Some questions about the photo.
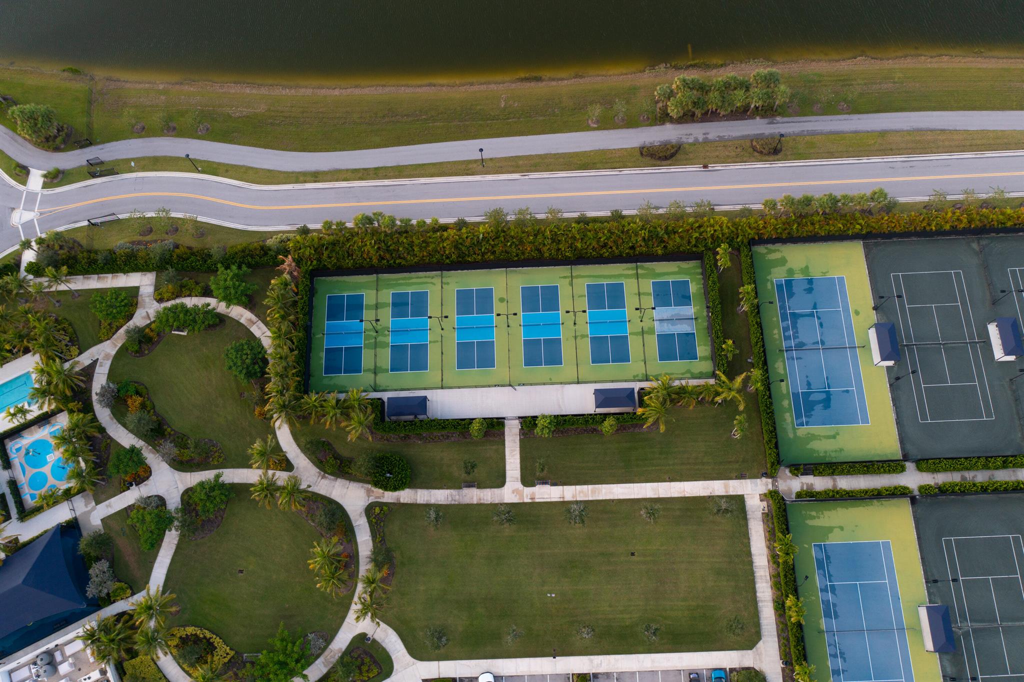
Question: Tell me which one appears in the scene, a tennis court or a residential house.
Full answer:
It is a tennis court that can be seen here.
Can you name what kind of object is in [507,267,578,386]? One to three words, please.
sports court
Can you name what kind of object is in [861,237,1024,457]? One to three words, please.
tennis court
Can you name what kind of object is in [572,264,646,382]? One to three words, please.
sports court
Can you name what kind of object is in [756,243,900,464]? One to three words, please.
tennis court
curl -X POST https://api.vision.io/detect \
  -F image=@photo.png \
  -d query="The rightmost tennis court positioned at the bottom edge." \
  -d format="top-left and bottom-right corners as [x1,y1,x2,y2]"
[908,494,1024,682]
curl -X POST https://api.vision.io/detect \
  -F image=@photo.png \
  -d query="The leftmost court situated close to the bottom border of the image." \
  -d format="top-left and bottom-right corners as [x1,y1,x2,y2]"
[791,498,941,682]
